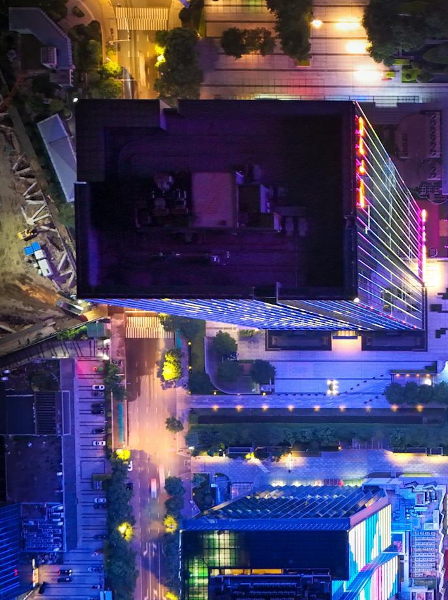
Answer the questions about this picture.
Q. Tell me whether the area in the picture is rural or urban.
urban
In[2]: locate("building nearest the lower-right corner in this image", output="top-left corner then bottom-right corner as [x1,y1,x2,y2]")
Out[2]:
[362,472,448,600]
